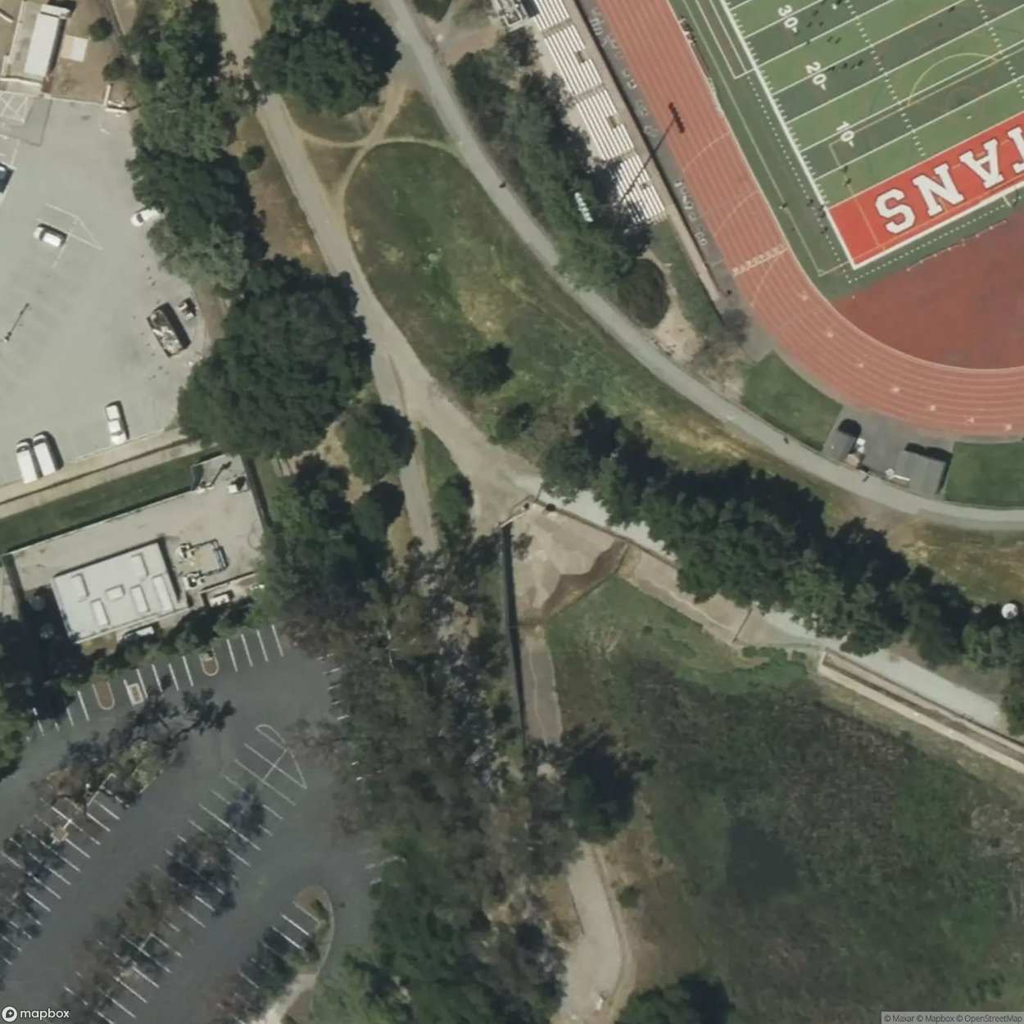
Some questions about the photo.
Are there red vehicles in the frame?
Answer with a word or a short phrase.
No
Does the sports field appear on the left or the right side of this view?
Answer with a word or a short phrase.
right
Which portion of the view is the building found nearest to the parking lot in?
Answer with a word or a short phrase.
top left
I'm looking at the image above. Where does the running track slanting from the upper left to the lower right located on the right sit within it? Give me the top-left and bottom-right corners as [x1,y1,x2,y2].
[599,0,1024,433]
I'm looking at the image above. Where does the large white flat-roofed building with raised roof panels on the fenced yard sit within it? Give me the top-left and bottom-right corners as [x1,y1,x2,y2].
[56,543,183,645]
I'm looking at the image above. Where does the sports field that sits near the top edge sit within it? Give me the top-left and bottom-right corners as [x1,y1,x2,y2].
[670,0,1024,301]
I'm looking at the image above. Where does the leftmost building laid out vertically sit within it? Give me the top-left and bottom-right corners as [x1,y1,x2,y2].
[26,16,66,79]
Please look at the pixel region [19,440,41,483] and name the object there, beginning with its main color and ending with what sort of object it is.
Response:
white vehicle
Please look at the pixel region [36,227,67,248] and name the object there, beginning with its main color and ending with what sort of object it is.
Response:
white car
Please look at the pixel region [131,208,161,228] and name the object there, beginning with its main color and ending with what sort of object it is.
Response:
white car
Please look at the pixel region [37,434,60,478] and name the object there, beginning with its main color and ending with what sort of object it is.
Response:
white vehicle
